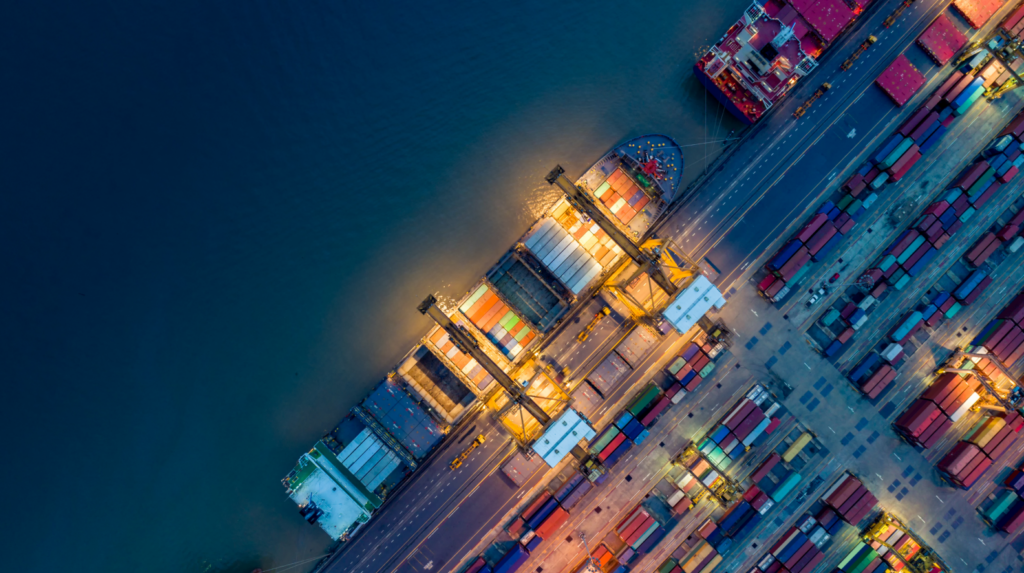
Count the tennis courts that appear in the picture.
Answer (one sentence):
No tennis courts are visible.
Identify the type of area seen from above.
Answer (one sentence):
This image shows a port.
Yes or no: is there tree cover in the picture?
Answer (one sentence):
No, there's no tree cover in this view.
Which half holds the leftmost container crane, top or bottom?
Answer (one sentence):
The leftmost container crane is in the bottom half of the image.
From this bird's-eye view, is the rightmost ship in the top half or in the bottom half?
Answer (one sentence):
It is in the top half that the rightmost ship appears.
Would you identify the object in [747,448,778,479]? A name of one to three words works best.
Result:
shipping container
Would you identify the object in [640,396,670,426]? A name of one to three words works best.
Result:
shipping container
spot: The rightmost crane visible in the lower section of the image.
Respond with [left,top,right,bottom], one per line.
[934,351,1024,413]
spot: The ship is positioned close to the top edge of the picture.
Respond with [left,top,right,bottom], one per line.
[692,0,872,124]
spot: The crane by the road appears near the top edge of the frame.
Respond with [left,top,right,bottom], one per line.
[950,22,1024,105]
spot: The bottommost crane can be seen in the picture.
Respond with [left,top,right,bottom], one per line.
[872,512,954,573]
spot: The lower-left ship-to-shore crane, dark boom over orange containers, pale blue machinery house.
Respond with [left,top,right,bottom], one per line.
[416,292,606,483]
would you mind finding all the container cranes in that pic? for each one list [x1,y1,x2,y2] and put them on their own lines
[416,292,606,483]
[544,163,735,349]
[950,22,1024,105]
[872,512,954,573]
[670,441,746,514]
[934,351,1024,413]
